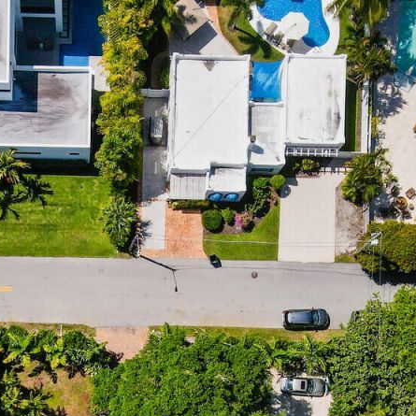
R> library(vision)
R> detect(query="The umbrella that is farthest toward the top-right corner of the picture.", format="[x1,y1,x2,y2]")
[280,14,308,42]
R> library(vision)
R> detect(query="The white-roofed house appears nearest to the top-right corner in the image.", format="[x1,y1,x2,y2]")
[166,54,346,206]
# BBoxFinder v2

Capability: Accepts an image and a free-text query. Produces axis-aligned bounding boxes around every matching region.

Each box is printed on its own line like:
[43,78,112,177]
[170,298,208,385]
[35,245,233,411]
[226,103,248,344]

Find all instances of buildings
[166,54,346,206]
[0,0,91,165]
